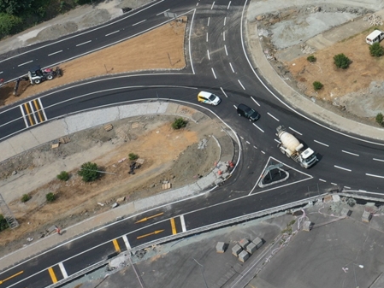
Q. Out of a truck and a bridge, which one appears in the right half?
truck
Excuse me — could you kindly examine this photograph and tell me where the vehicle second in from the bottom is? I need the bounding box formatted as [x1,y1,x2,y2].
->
[236,101,260,121]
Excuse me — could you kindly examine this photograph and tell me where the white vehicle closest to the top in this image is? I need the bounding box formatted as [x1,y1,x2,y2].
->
[364,28,384,45]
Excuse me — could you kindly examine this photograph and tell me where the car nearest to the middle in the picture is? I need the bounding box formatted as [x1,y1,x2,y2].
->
[197,90,221,107]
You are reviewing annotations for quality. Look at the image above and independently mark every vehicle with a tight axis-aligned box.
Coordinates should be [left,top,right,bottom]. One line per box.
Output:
[236,101,260,121]
[17,62,63,89]
[276,122,318,165]
[364,28,384,45]
[197,90,221,107]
